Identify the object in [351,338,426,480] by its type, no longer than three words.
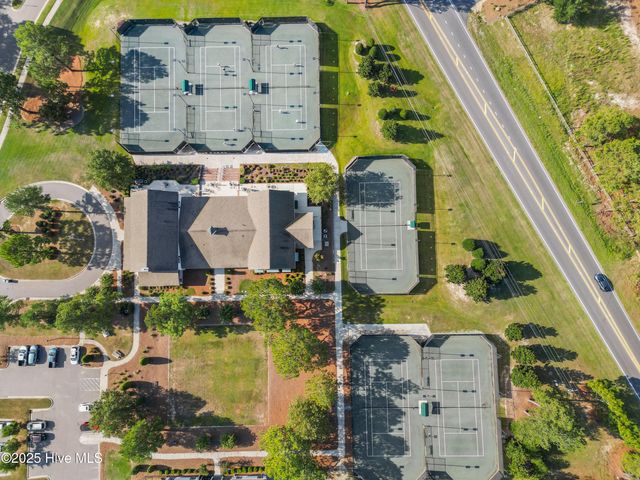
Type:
tennis court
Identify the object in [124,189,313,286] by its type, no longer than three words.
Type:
building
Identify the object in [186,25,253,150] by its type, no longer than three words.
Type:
tennis court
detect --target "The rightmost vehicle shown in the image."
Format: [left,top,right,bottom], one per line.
[598,273,614,292]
